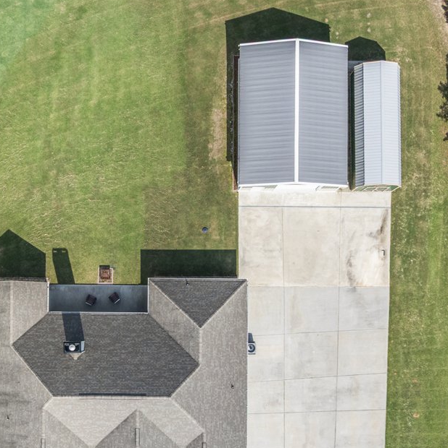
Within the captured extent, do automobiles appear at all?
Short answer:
No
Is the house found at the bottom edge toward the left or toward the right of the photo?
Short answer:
left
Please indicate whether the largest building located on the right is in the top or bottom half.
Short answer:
top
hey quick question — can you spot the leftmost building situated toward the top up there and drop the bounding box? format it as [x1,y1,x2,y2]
[236,36,348,190]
